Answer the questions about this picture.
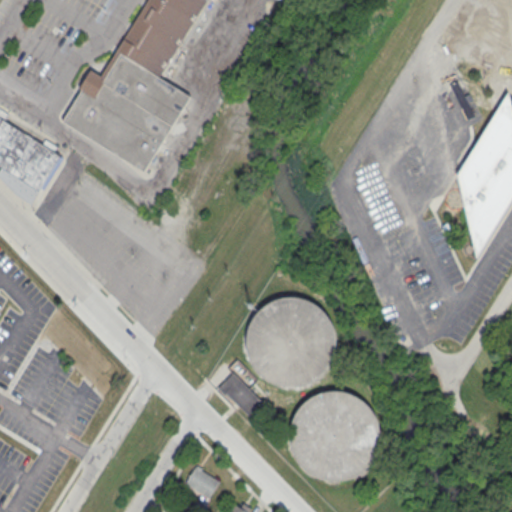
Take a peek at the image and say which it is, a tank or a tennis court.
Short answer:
tank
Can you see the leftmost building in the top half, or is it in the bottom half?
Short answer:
top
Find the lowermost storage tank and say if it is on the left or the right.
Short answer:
right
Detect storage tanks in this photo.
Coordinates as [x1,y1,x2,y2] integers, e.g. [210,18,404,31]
[286,388,383,486]
[244,294,339,390]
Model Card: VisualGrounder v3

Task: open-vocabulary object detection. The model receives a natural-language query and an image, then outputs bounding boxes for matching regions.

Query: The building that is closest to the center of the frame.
[218,372,261,416]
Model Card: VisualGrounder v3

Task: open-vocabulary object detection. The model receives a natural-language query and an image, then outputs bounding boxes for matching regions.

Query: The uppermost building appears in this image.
[80,0,206,96]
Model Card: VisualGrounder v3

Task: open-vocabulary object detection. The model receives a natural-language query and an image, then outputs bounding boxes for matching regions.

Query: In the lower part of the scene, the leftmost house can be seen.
[187,467,220,504]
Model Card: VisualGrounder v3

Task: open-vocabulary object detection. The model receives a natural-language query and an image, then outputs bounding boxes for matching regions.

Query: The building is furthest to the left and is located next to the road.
[0,116,63,189]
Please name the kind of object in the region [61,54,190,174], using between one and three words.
building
